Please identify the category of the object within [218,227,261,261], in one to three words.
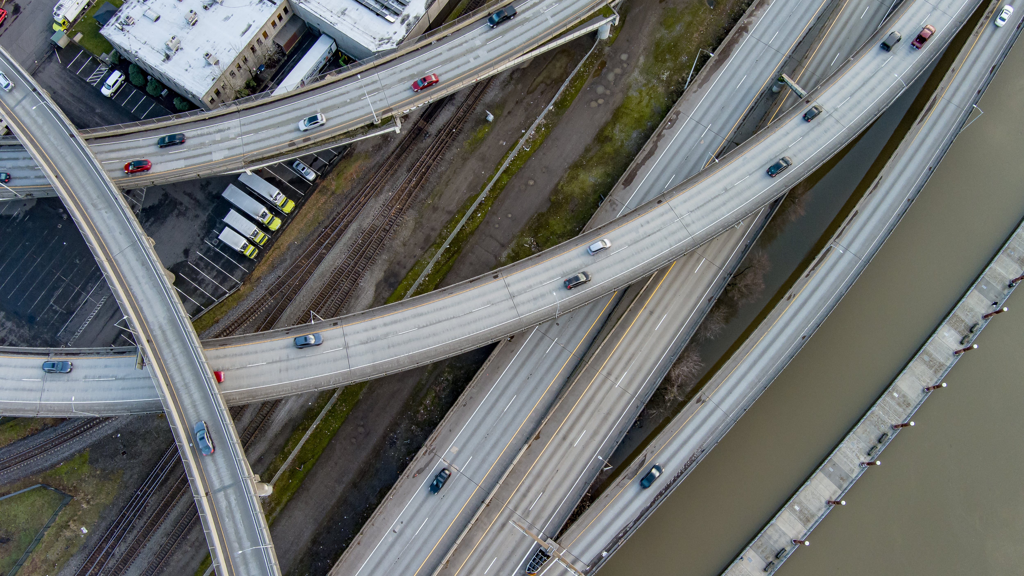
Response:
truck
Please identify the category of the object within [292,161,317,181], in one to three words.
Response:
car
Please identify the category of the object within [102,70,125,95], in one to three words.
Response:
car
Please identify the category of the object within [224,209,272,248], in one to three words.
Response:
truck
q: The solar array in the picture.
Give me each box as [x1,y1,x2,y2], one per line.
[355,0,410,20]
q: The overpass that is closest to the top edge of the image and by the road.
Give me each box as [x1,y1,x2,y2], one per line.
[0,0,983,416]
